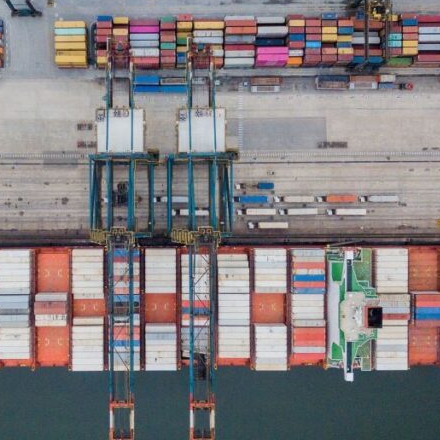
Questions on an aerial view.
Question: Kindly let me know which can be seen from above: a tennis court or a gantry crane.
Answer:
gantry crane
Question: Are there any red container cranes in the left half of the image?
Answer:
No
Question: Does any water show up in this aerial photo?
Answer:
Yes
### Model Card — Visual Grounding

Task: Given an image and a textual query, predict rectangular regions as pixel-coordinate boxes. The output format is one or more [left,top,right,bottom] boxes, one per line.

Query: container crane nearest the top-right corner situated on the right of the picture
[346,0,392,78]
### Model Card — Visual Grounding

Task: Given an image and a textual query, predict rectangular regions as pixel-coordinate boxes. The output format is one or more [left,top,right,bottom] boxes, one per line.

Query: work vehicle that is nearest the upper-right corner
[396,78,421,94]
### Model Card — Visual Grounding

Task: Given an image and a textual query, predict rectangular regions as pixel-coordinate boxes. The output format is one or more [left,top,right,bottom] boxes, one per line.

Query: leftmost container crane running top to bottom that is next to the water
[88,44,166,440]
